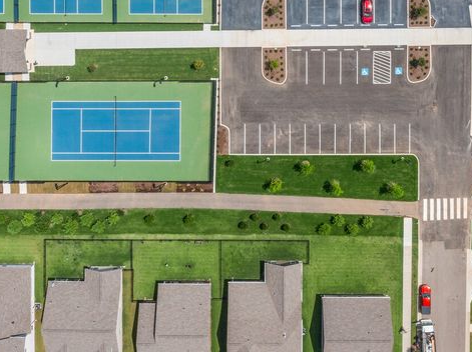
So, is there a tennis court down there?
Yes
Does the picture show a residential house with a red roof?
No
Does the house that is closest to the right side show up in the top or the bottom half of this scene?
bottom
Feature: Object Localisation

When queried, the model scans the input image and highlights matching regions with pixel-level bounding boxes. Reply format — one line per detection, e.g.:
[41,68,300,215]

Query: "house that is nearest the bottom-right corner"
[322,295,394,352]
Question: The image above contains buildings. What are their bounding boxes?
[43,264,123,352]
[227,260,303,352]
[135,281,211,352]
[322,295,394,352]
[0,263,33,352]
[0,29,29,73]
